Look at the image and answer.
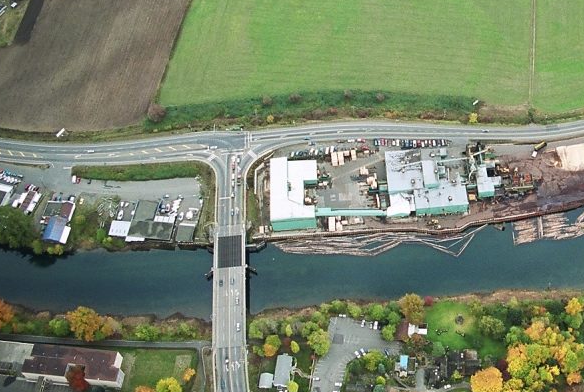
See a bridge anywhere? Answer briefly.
Yes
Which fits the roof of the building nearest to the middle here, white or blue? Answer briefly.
white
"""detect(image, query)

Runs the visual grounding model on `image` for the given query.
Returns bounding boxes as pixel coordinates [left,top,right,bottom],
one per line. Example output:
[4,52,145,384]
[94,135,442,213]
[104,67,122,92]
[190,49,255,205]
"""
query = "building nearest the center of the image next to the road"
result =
[270,157,318,230]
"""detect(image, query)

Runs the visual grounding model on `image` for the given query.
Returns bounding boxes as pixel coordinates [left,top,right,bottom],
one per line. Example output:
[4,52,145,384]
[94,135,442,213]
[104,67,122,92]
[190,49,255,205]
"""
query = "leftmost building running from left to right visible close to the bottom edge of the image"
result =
[21,344,118,386]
